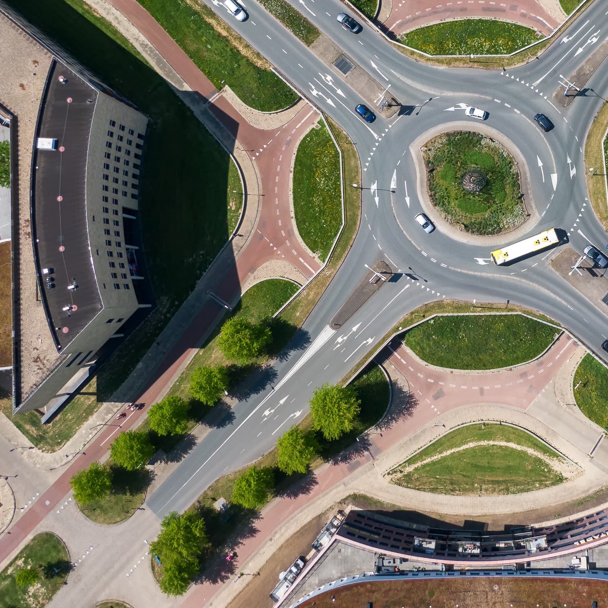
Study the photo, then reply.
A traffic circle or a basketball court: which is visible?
traffic circle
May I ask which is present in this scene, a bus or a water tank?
bus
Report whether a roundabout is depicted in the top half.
Yes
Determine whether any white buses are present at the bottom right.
No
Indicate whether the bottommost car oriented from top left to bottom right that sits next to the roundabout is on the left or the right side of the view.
right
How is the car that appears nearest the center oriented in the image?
diagonally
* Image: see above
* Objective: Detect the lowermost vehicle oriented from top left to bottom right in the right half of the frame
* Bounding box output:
[583,243,608,270]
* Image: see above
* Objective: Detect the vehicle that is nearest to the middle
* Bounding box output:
[413,210,436,235]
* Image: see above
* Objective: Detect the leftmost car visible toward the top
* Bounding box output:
[224,0,248,22]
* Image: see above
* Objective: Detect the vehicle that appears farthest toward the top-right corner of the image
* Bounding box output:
[531,111,554,133]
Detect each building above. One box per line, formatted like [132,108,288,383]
[0,0,153,424]
[257,501,608,608]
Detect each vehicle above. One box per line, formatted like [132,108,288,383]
[583,243,608,270]
[353,102,376,124]
[463,106,489,122]
[224,0,248,22]
[413,210,436,235]
[335,11,360,36]
[490,224,562,264]
[600,338,608,353]
[531,111,554,133]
